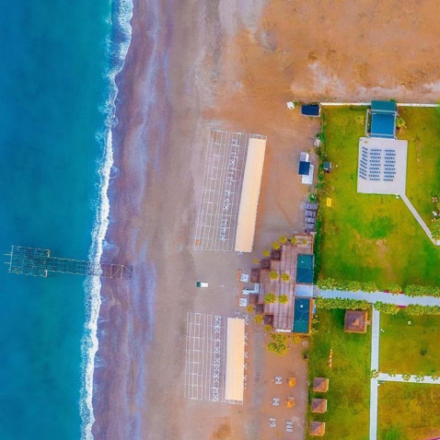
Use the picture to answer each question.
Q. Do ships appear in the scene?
No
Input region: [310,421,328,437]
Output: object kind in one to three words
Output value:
gazebo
